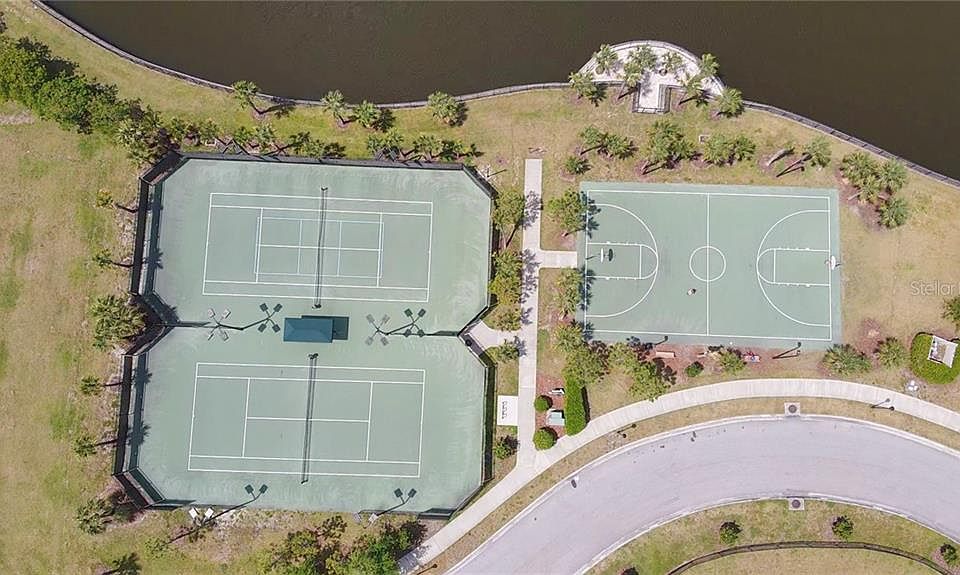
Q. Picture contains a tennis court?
Yes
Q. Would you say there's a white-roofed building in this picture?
No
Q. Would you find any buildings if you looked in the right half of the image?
No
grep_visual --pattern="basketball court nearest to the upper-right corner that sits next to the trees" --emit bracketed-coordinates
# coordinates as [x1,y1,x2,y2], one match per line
[576,181,843,350]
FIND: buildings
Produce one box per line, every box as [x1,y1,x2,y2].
[283,318,335,343]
